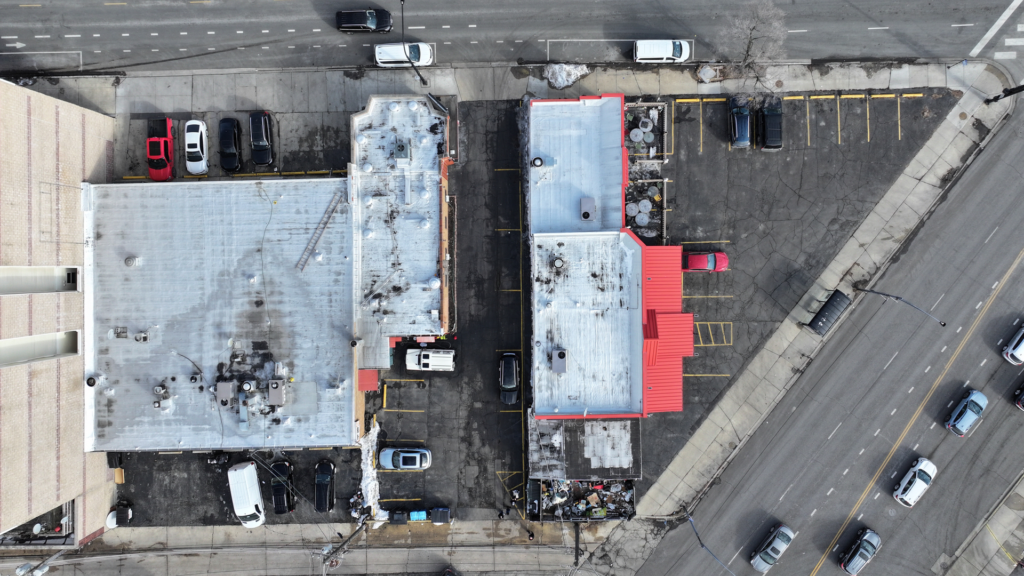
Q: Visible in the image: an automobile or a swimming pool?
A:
automobile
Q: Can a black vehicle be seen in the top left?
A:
Yes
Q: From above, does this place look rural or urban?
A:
urban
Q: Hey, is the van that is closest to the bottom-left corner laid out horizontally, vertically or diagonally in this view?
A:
vertically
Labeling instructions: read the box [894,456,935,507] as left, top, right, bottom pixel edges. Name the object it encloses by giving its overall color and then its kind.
white car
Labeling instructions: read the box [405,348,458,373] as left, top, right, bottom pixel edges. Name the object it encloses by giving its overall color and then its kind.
white car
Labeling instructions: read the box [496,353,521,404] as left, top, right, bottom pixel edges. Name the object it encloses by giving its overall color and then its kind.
black car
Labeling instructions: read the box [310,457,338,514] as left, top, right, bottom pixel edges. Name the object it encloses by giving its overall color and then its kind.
black car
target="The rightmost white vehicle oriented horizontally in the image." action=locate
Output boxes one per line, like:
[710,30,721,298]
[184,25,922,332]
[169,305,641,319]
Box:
[634,38,689,65]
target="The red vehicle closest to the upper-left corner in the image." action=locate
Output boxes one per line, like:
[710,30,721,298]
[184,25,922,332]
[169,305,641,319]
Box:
[145,117,177,182]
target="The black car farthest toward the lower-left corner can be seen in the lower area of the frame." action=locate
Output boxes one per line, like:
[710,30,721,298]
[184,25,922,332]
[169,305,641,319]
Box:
[268,460,296,513]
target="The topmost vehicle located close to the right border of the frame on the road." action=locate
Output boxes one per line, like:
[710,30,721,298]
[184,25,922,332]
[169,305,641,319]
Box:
[996,317,1024,366]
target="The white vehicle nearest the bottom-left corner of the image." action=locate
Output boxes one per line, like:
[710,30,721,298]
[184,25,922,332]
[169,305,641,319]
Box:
[228,459,265,526]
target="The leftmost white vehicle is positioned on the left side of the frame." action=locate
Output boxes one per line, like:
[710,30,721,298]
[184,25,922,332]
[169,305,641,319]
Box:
[182,120,210,175]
